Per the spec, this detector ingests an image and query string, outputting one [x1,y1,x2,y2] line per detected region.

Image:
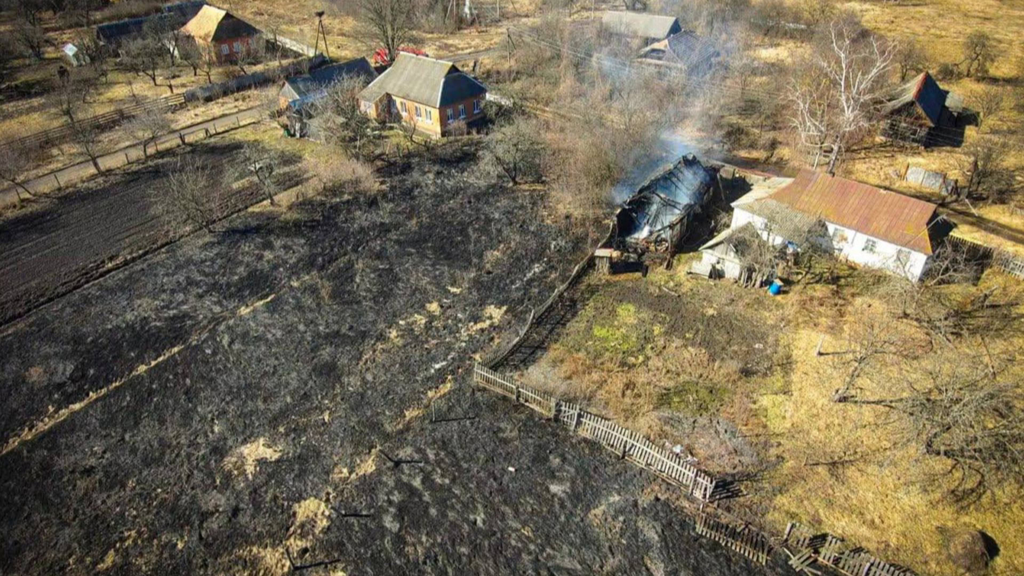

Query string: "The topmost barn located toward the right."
[594,10,684,46]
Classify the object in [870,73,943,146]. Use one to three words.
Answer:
shed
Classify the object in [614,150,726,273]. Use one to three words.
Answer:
barn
